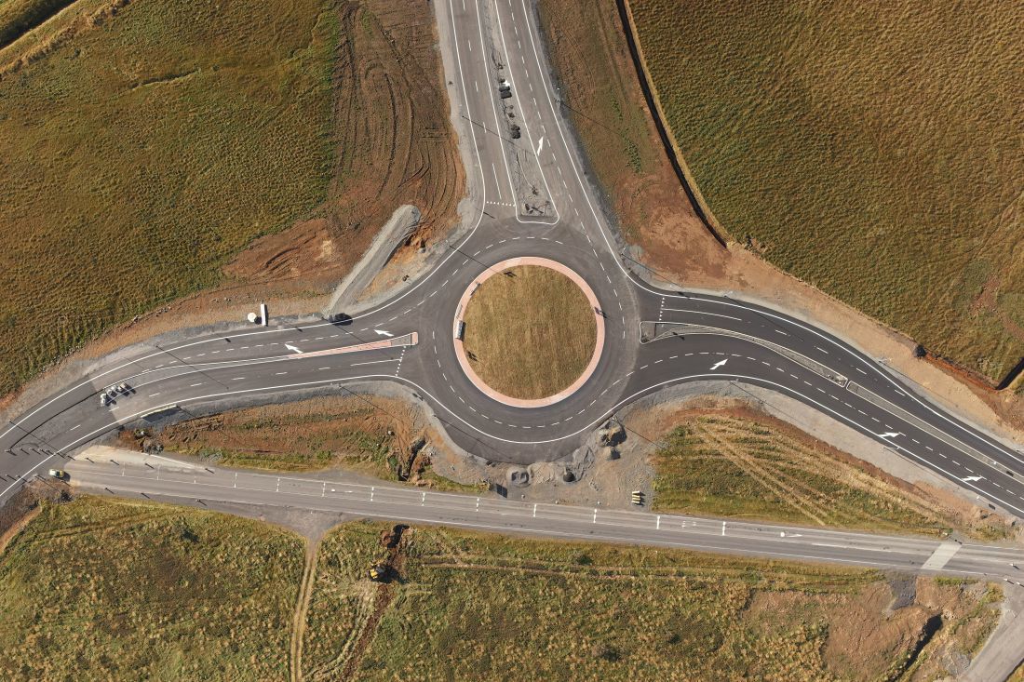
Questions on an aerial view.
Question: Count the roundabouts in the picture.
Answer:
1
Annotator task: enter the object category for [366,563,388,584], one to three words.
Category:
work vehicle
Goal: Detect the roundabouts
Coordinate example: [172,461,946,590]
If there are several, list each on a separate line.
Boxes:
[403,210,640,465]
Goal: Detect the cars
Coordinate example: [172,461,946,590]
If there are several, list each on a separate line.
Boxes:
[46,469,64,479]
[328,313,346,322]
